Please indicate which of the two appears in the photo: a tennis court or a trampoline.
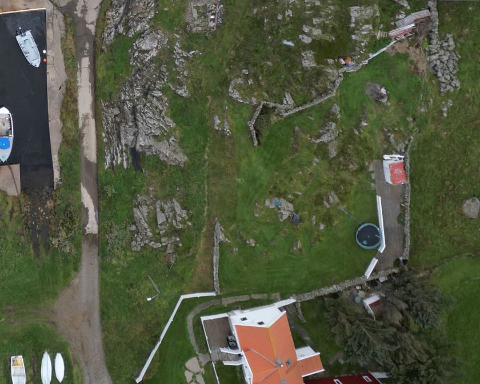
trampoline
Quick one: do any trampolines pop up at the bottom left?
No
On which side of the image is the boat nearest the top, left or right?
left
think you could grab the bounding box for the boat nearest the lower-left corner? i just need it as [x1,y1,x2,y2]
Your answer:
[11,354,26,384]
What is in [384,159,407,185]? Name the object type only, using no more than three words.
shed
